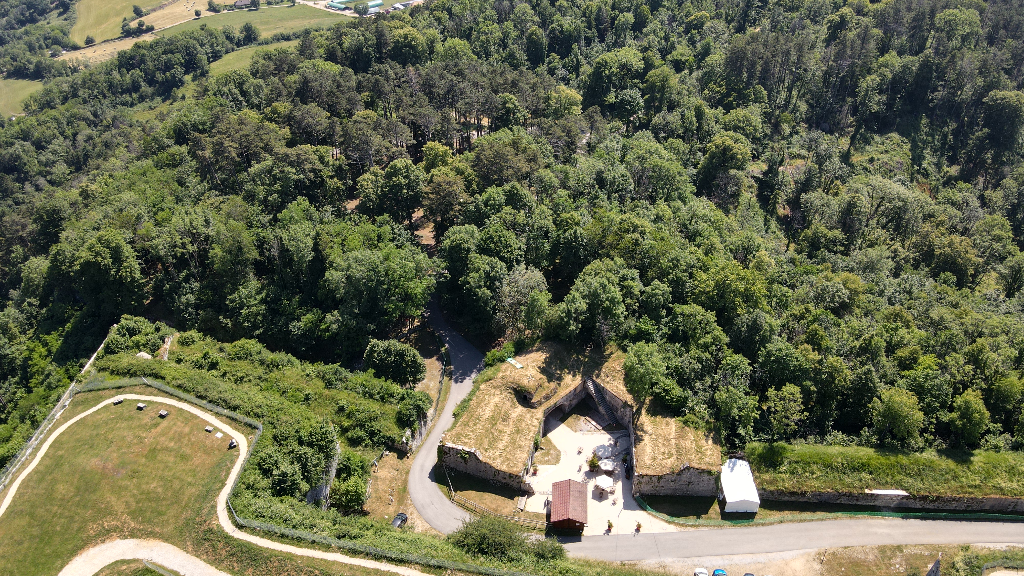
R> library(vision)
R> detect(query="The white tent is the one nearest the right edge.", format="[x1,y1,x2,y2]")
[720,461,760,512]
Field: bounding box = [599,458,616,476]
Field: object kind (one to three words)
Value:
umbrella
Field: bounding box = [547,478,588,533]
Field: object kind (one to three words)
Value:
shed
